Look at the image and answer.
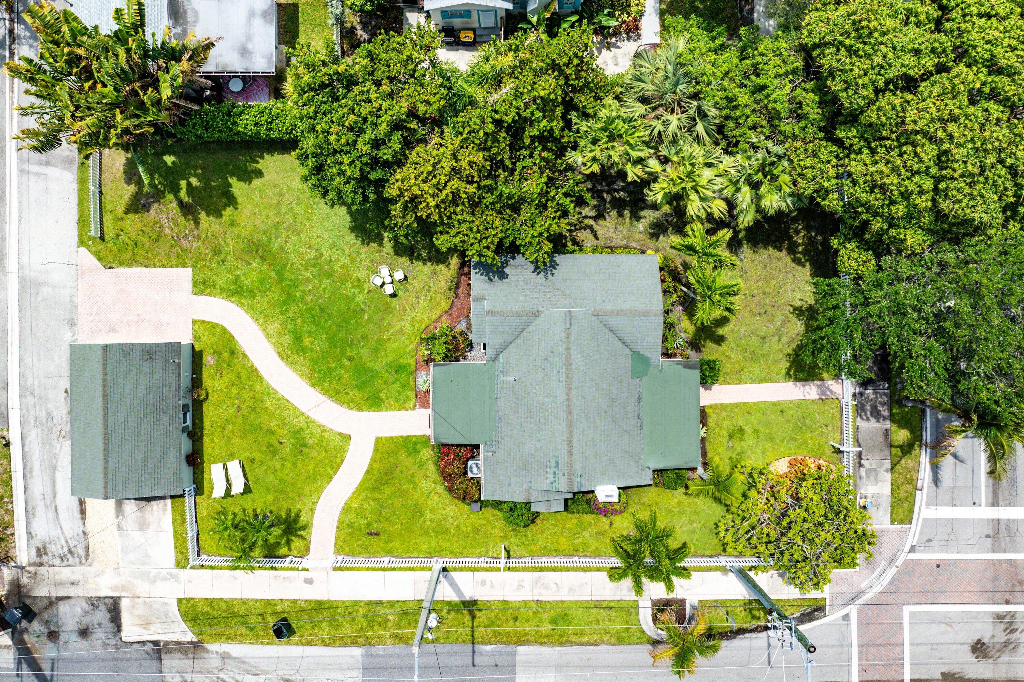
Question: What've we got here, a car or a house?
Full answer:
This aerial view contains a house.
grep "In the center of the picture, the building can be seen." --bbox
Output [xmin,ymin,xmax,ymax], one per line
[427,254,701,513]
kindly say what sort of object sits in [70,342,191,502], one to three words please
building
